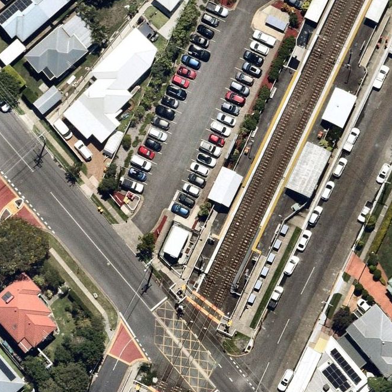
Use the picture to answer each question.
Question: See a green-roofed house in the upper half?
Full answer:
No, there is no green-roofed house in the upper half.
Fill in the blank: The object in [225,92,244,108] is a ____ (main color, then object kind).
red car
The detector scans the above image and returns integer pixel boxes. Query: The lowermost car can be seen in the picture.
[279,371,293,391]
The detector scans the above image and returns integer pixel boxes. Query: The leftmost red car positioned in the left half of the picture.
[136,147,156,162]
